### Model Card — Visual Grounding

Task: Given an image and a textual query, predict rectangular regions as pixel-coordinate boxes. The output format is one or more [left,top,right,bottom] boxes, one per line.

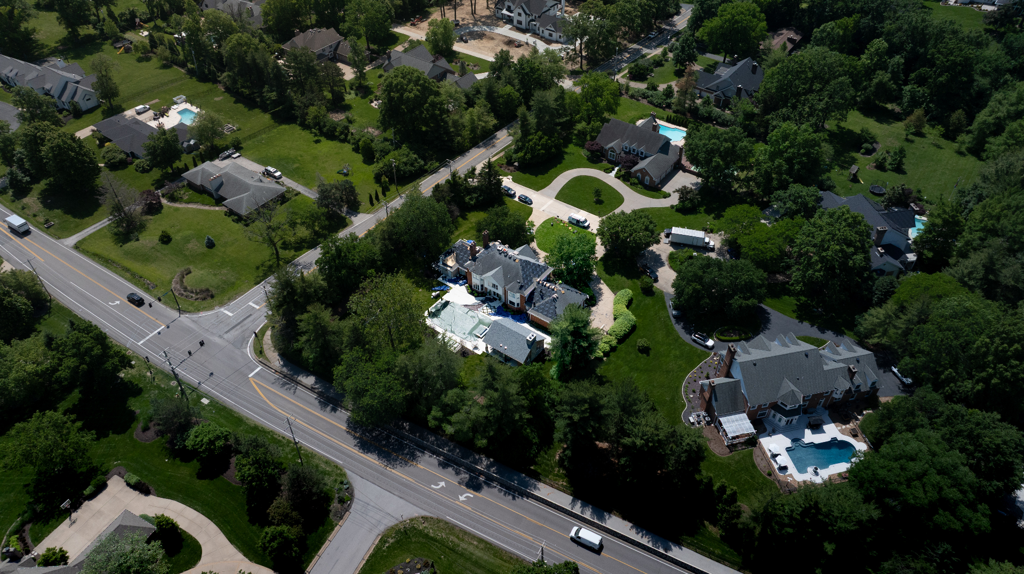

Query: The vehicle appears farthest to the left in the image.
[3,212,28,231]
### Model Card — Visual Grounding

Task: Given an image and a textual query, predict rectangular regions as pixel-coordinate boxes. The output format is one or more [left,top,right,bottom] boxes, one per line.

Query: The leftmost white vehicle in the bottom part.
[567,525,605,550]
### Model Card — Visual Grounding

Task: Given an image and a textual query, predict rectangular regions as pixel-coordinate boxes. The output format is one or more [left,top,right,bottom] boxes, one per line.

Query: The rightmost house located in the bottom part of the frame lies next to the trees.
[696,332,881,437]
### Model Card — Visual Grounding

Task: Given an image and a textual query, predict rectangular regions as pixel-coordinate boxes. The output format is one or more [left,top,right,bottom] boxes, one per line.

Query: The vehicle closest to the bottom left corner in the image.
[125,290,145,304]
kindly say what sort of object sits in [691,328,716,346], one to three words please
car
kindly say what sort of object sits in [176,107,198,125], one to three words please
swimming pool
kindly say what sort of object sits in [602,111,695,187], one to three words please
house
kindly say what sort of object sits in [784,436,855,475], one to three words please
swimming pool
